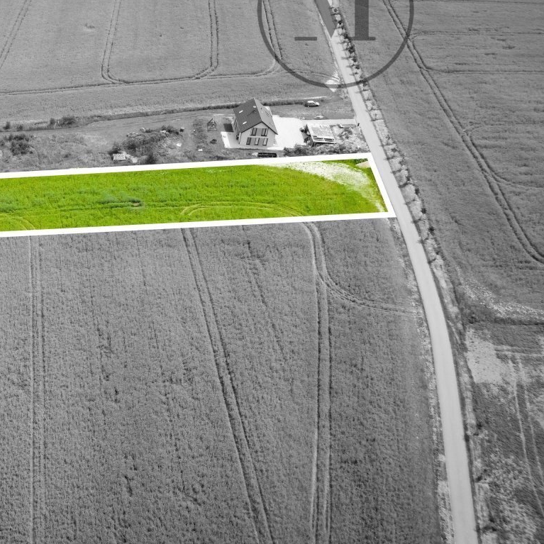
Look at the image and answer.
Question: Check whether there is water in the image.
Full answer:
No, no water is visible.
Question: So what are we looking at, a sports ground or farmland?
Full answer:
The area seen from above is farmland.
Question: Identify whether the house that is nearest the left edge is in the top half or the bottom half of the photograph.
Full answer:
The house that is nearest the left edge sits in the top half of the picture.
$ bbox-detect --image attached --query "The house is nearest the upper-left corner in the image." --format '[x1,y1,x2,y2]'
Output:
[235,97,281,145]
